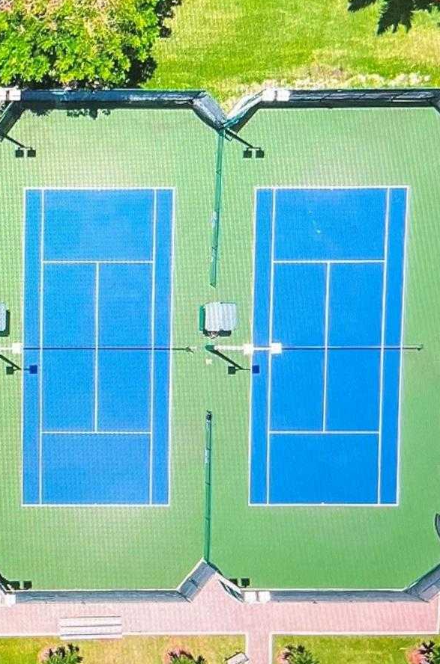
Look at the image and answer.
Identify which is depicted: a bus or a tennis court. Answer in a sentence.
I can see a tennis court in this picture.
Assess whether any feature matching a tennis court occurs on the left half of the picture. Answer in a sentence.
Yes, there is a tennis court on the left half of the picture.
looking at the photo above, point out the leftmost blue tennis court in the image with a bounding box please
[22,187,176,506]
